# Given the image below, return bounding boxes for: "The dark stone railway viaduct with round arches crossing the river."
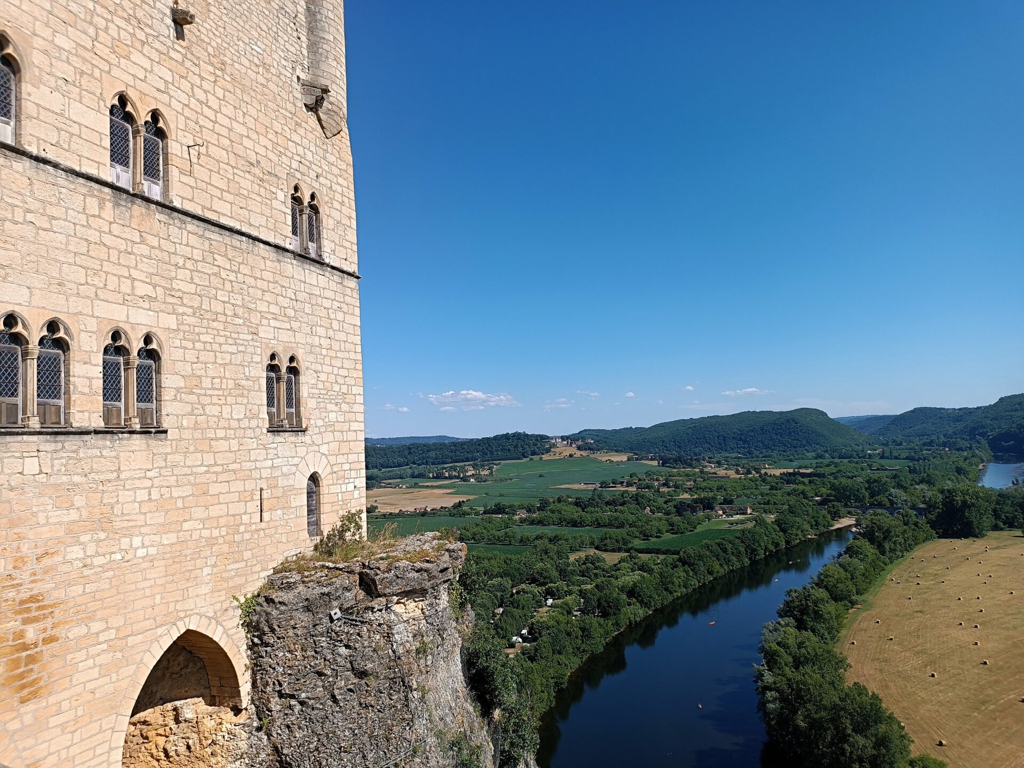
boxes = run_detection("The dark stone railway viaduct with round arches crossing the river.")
[744,503,922,524]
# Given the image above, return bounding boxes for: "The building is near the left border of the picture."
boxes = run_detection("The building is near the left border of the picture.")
[0,0,366,768]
